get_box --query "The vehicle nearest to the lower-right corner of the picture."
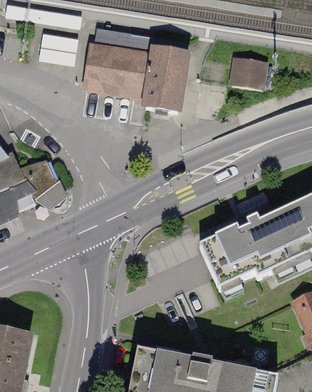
[188,290,204,314]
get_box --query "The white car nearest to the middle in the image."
[214,166,240,184]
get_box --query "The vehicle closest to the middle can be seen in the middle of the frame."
[162,160,188,179]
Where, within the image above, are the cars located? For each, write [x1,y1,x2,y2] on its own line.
[119,99,130,123]
[188,290,204,314]
[214,166,240,184]
[114,344,126,367]
[103,97,114,119]
[0,229,10,242]
[87,93,98,118]
[164,300,180,324]
[0,32,6,56]
[42,134,62,156]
